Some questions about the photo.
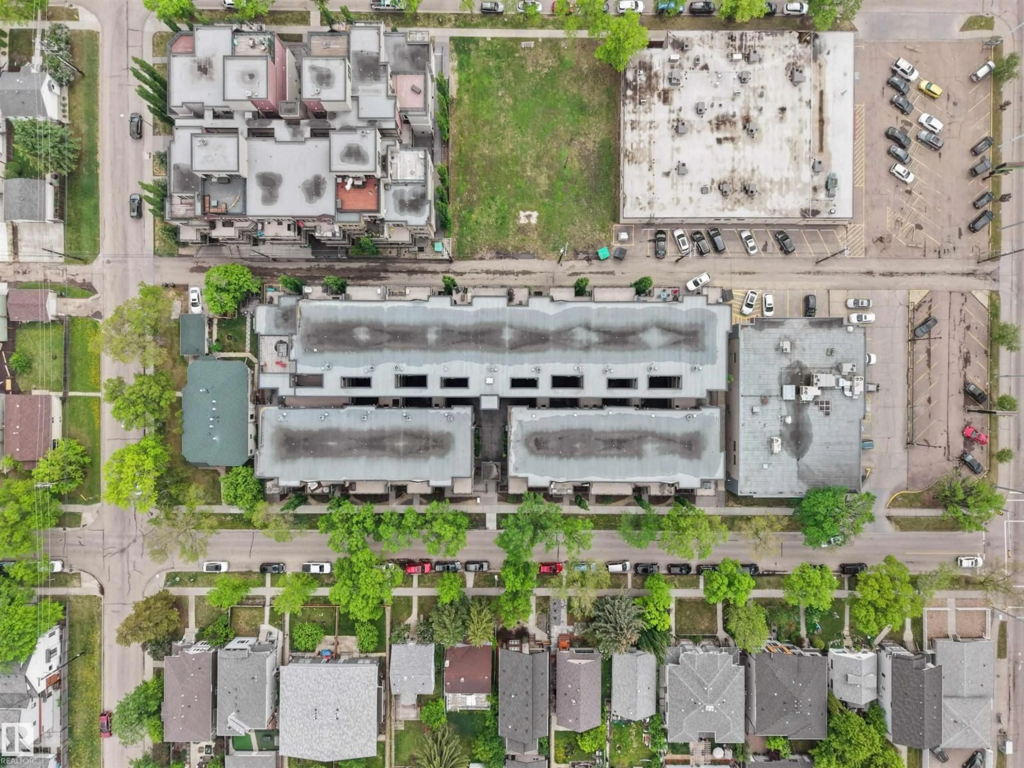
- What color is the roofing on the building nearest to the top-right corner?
white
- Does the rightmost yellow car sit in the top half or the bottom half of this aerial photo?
top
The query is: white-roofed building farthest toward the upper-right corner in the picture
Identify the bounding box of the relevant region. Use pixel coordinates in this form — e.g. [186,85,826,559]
[621,30,854,225]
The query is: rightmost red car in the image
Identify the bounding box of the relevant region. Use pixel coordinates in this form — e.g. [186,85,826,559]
[961,426,989,445]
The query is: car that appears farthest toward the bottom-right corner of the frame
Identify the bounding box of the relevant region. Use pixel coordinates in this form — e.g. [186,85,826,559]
[964,748,987,768]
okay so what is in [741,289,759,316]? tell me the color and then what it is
white car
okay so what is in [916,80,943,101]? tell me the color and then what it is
yellow car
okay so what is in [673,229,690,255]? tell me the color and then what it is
white car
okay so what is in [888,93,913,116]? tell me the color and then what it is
gray car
